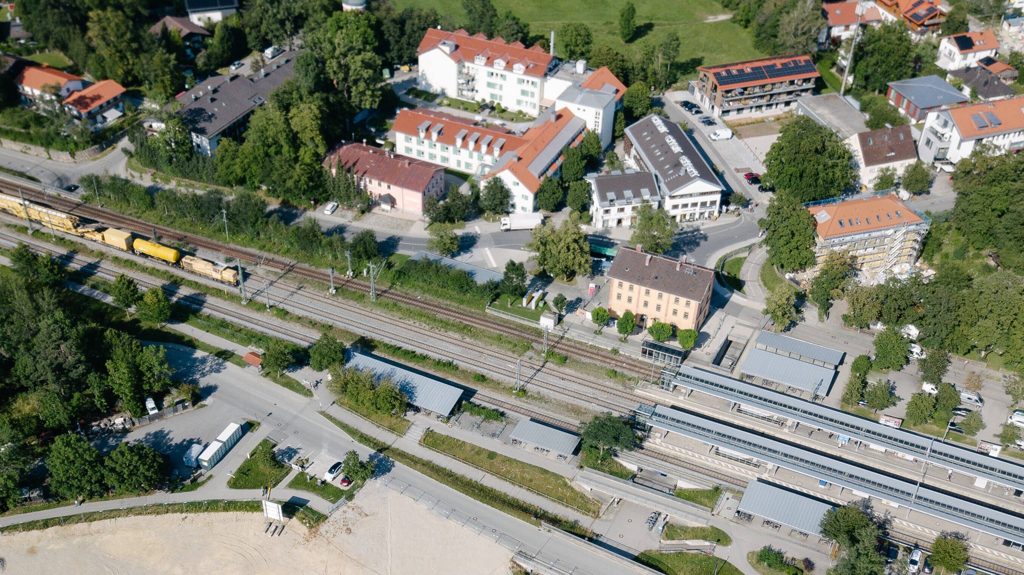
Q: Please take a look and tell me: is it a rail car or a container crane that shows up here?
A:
rail car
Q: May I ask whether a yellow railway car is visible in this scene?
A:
Yes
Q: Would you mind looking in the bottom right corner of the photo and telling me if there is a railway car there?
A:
No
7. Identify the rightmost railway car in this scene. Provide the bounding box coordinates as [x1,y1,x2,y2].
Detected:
[179,254,240,285]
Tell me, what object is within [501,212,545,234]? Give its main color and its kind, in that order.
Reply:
white truck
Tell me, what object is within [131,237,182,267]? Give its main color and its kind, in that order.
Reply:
yellow rail car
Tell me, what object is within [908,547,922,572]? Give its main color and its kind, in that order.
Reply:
white car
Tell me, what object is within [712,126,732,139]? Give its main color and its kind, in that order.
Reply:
white vehicle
